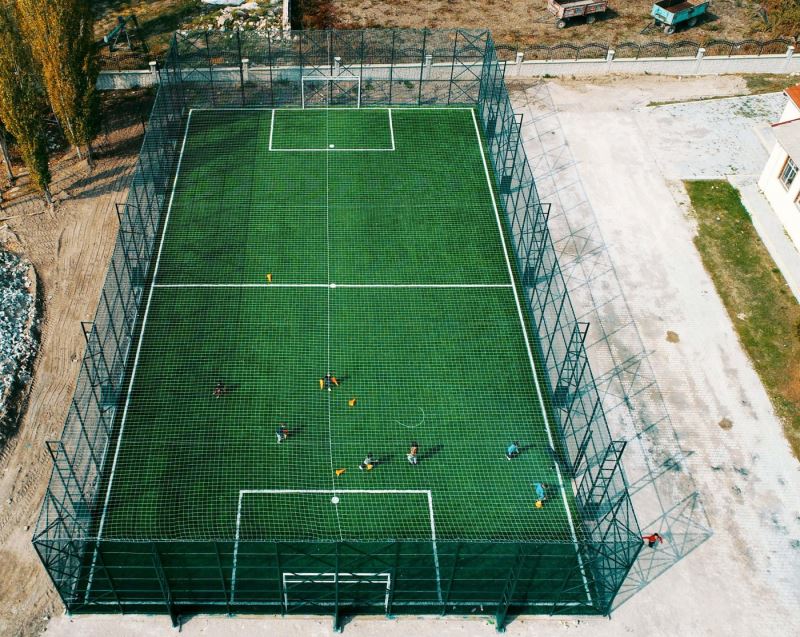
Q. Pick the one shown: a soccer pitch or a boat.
soccer pitch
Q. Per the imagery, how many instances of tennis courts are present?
0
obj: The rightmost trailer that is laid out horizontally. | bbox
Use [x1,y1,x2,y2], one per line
[647,0,705,30]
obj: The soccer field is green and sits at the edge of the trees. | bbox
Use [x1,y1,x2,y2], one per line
[71,103,602,612]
